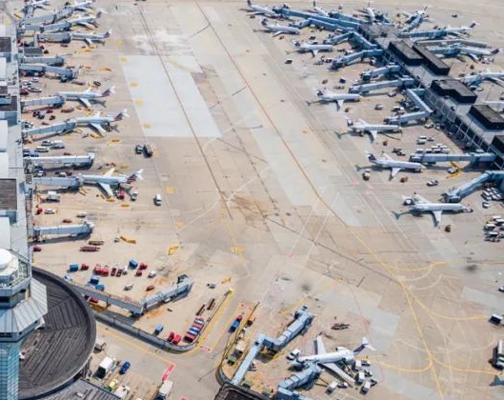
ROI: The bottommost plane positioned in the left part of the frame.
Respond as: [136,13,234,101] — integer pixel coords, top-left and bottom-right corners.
[76,169,131,192]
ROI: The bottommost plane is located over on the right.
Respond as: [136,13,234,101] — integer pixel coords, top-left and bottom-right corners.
[290,337,365,378]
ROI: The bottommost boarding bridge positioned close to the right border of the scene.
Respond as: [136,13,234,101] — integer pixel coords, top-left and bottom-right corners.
[443,171,502,213]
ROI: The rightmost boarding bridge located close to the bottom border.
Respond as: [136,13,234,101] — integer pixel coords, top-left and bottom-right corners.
[274,362,320,400]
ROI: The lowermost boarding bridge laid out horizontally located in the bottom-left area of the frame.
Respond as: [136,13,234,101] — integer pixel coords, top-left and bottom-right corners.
[63,273,193,324]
